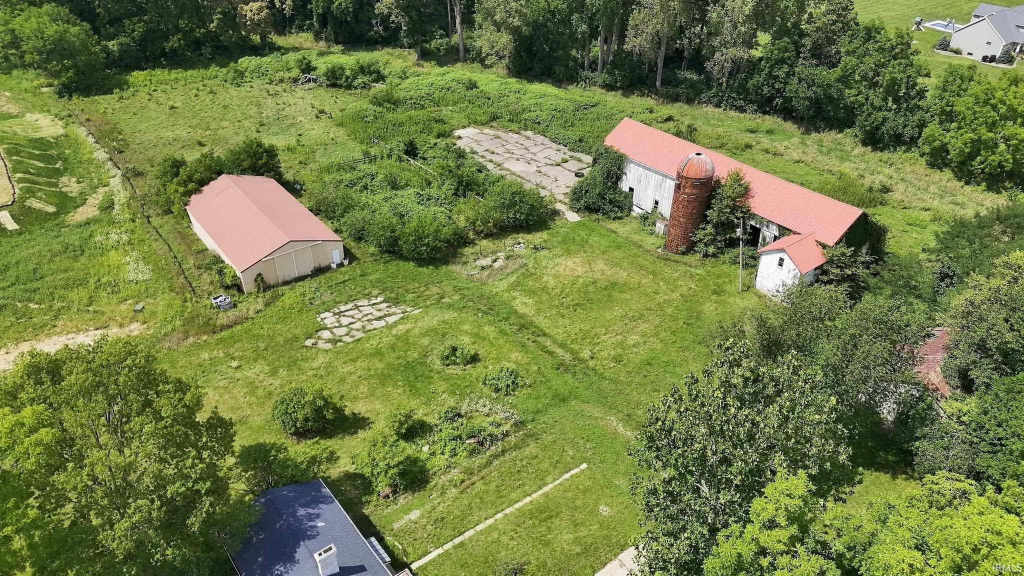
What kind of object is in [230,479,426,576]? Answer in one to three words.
house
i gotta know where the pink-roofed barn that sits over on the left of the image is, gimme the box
[180,174,344,294]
